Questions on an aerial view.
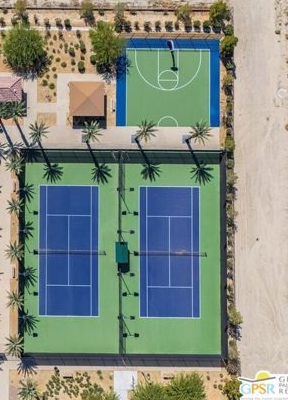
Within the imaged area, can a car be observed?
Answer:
No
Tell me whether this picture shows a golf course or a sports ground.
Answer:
sports ground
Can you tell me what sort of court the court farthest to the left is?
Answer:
tennis court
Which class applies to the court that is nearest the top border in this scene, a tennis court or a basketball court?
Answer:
basketball court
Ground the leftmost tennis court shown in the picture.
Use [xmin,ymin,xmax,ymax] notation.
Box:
[19,150,119,354]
